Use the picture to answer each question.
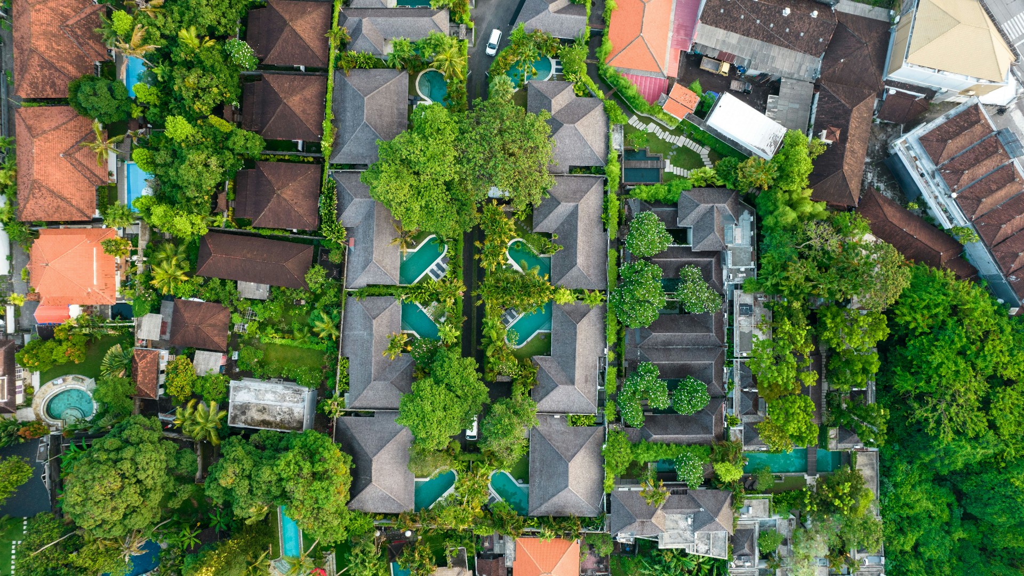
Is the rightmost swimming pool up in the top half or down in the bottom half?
bottom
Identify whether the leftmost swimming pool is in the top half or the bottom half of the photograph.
bottom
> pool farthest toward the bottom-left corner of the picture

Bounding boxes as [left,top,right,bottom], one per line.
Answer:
[110,539,163,576]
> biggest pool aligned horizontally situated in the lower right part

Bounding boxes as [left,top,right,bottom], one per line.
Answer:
[741,448,845,476]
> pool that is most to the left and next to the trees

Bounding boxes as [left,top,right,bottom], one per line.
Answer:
[43,381,96,427]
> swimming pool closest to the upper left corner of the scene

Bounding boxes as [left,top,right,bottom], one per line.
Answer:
[123,53,149,99]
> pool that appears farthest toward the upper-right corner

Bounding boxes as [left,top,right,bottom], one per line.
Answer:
[621,147,663,185]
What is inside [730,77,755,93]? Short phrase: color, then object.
gray vehicle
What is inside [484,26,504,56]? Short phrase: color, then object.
white car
